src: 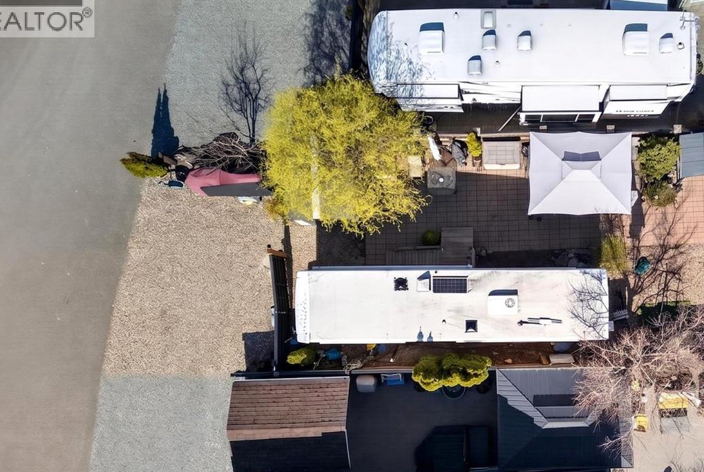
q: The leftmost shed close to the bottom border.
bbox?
[226,373,357,472]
